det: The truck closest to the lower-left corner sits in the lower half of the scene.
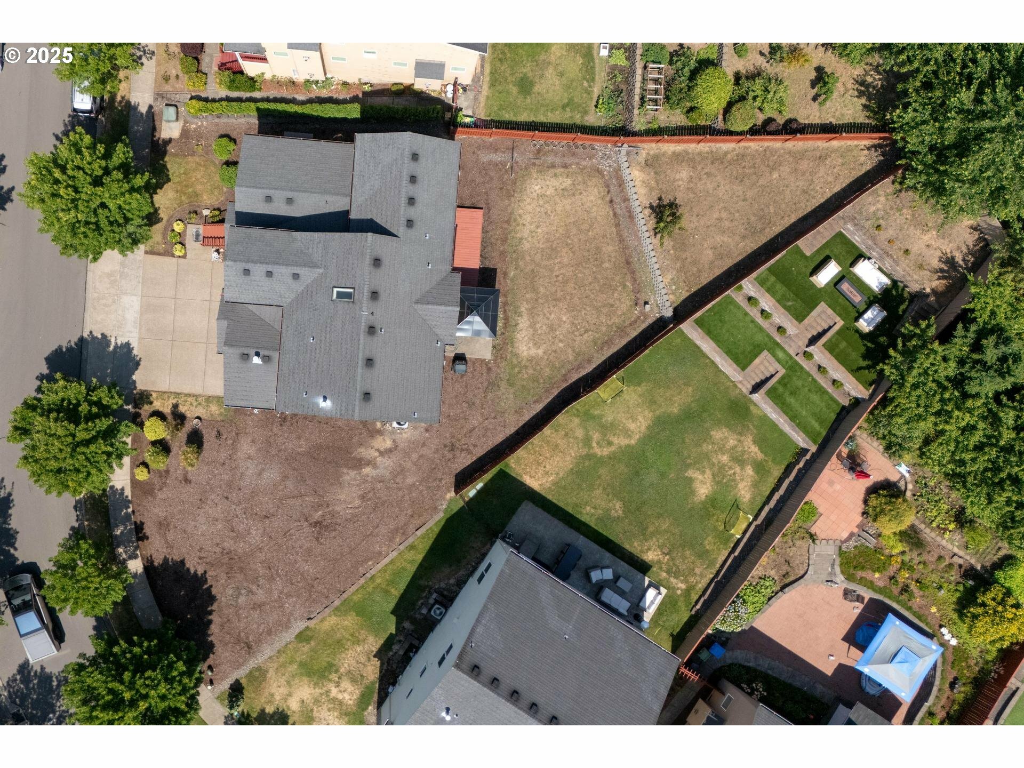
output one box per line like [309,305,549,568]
[4,568,66,669]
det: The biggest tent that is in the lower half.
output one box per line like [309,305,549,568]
[837,601,944,703]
